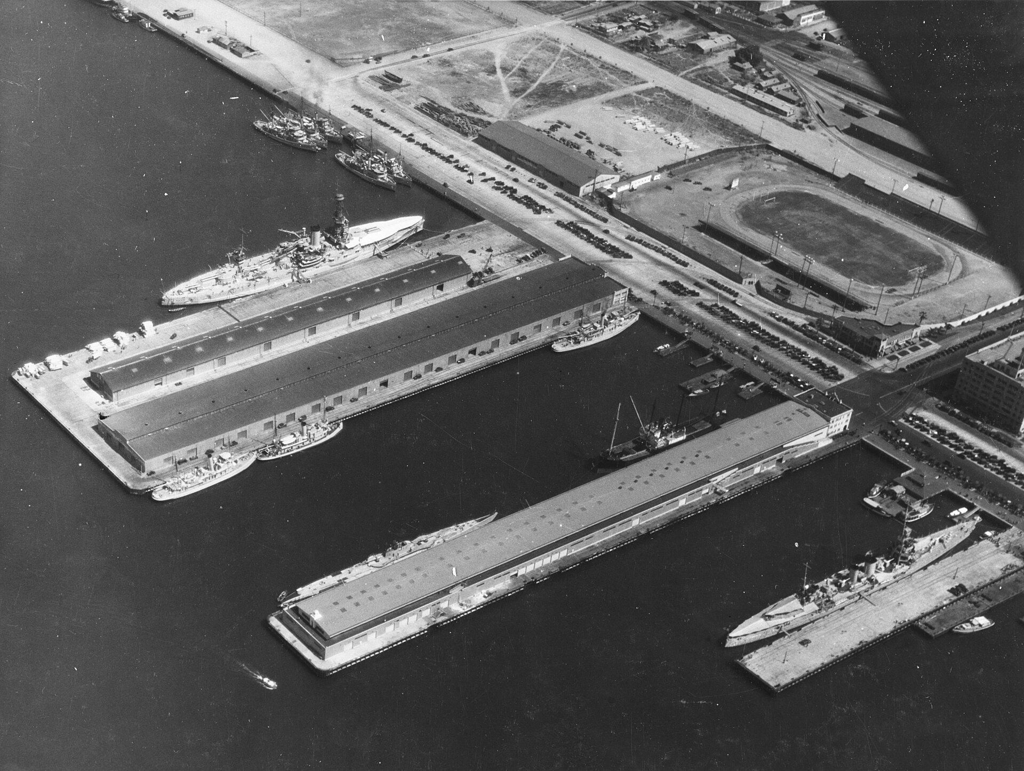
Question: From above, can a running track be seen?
Yes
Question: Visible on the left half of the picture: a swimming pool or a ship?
ship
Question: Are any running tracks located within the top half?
Yes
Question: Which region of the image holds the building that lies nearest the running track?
right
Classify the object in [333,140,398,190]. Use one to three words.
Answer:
ship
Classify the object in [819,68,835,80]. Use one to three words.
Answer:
rail car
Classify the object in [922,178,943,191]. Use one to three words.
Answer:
rail car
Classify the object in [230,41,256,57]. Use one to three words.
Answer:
shed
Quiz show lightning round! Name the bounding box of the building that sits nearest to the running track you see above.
[822,304,930,357]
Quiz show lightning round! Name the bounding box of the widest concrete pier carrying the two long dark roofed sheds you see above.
[12,219,642,493]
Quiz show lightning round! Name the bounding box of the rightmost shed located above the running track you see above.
[848,114,933,171]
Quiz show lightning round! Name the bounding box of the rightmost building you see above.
[952,325,1024,432]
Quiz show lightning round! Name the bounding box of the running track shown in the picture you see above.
[710,186,972,306]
